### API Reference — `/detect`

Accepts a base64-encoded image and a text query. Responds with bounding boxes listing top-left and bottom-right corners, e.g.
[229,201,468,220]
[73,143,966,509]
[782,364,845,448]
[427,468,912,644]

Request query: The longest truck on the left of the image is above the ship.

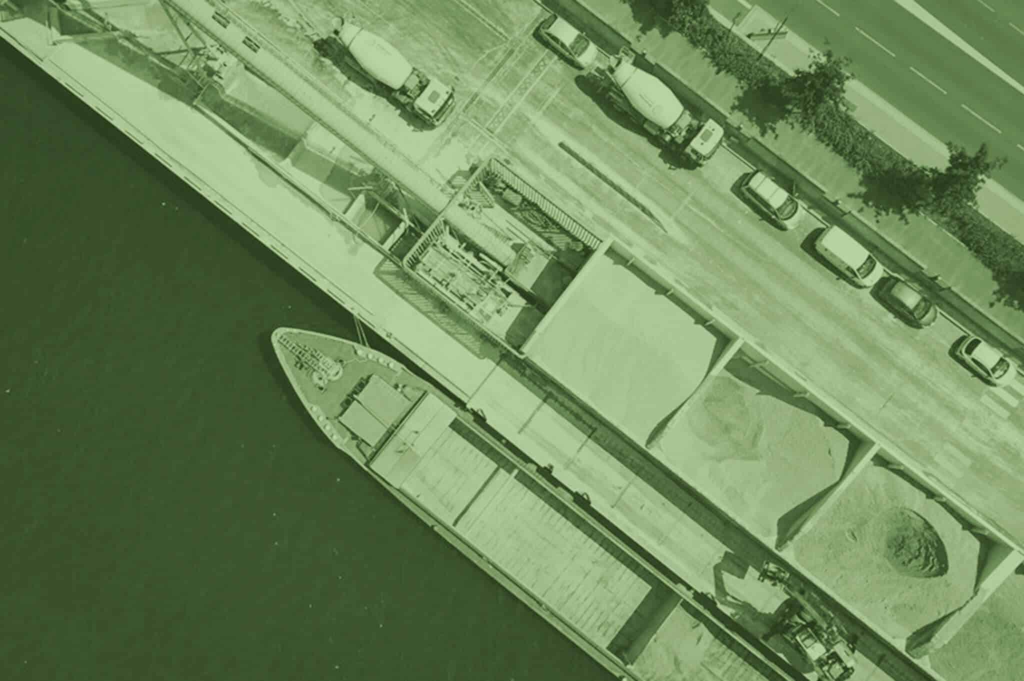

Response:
[327,11,464,132]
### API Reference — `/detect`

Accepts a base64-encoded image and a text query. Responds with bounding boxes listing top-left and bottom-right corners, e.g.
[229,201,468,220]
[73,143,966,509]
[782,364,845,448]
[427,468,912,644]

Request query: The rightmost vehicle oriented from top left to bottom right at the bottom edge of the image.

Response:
[755,553,874,681]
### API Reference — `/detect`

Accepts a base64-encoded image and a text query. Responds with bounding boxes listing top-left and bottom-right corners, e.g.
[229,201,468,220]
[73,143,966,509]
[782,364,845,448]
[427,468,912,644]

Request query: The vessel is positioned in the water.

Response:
[271,327,792,681]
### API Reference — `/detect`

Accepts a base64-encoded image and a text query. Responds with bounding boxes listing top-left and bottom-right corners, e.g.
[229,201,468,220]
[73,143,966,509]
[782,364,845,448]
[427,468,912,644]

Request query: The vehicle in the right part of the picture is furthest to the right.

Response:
[953,335,1015,388]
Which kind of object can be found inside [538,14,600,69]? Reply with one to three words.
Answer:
car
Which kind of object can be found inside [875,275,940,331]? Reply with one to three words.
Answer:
car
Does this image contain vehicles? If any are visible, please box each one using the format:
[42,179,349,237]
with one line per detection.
[327,11,464,132]
[741,171,806,231]
[755,553,874,681]
[875,275,940,331]
[600,46,735,171]
[953,335,1015,388]
[538,14,600,69]
[813,226,884,287]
